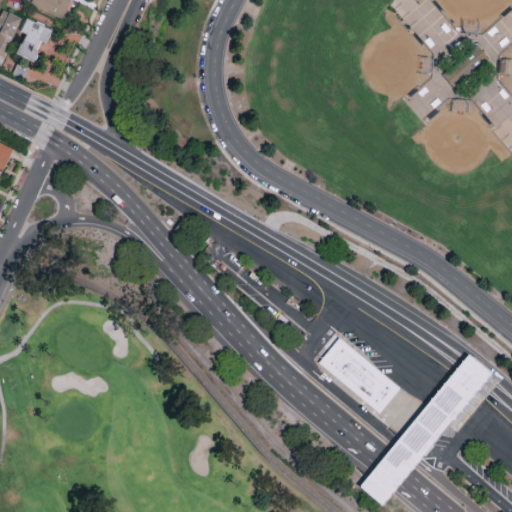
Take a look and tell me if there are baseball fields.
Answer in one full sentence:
Yes, there's a baseball field down there.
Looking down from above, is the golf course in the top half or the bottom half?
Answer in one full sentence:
The golf course is in the bottom half of the image.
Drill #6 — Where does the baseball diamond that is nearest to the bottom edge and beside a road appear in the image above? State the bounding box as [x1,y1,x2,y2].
[345,99,512,305]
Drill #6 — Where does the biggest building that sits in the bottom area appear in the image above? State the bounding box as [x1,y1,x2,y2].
[320,338,400,412]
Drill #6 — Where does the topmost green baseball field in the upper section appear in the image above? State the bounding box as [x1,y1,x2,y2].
[255,0,434,190]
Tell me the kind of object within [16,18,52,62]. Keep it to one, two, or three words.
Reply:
house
